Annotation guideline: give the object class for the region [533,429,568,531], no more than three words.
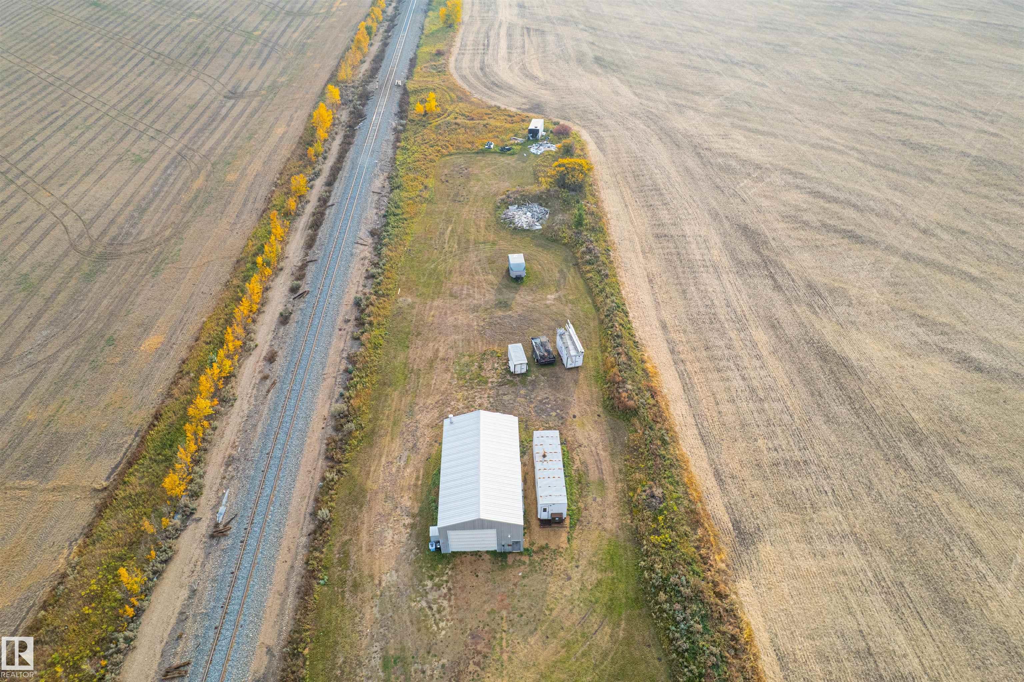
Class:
trailer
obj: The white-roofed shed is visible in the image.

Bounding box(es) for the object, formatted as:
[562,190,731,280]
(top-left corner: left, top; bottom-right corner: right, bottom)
[430,408,530,555]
